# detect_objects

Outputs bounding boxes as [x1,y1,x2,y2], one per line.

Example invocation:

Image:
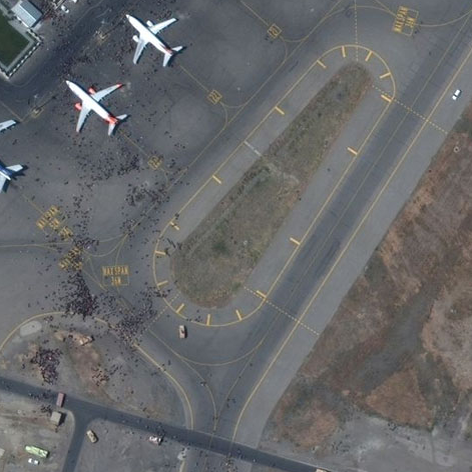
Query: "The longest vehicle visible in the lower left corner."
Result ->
[25,444,49,458]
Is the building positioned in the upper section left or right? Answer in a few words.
left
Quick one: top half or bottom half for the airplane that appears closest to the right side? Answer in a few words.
top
